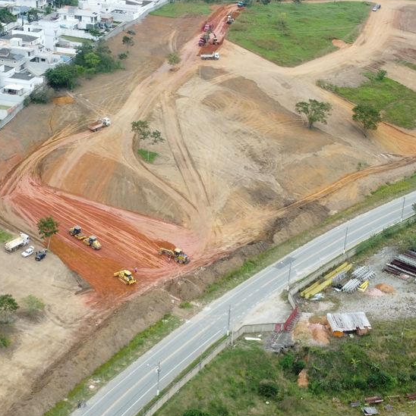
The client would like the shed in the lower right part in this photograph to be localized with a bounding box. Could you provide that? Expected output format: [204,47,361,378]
[320,308,372,337]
